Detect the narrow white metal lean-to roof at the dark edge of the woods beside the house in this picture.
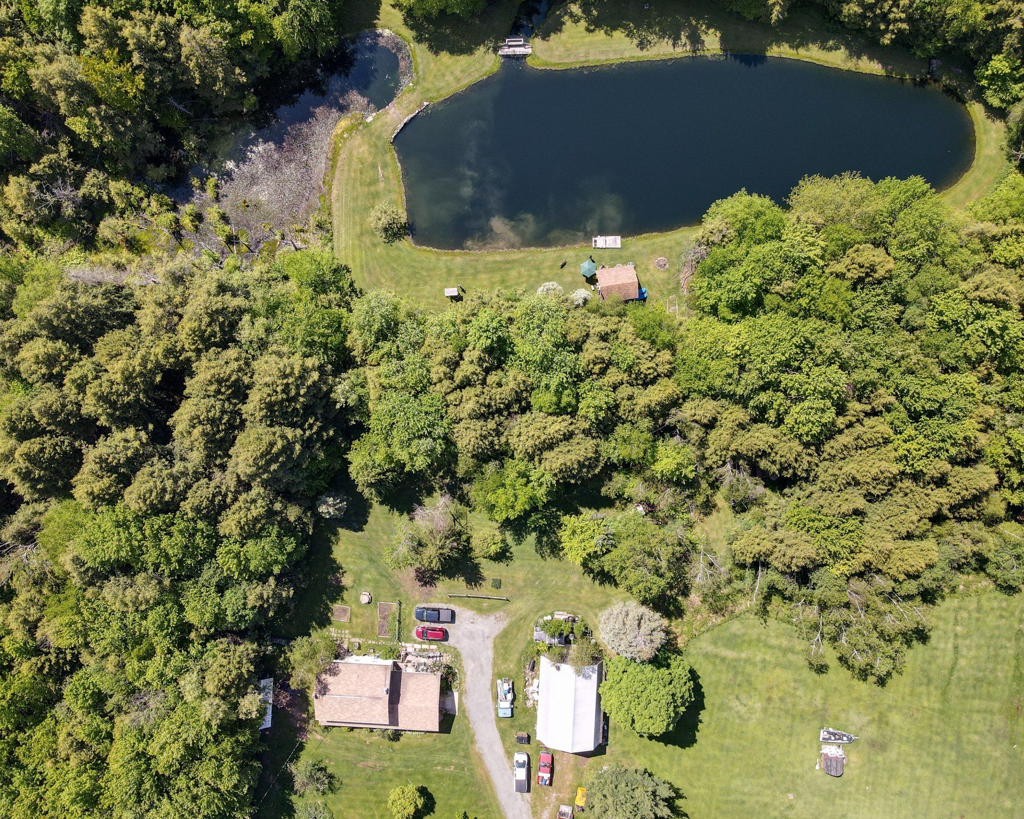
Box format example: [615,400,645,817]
[258,675,278,727]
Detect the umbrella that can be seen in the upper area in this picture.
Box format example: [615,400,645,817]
[581,260,596,276]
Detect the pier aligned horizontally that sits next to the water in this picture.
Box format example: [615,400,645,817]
[592,236,621,248]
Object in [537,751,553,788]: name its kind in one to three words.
vehicle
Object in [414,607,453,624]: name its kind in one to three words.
vehicle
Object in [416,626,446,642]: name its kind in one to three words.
car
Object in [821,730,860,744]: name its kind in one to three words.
boat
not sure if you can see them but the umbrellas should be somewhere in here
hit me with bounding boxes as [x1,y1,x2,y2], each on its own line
[581,260,596,276]
[413,660,428,674]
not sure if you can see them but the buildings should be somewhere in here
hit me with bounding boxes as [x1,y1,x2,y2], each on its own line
[258,675,278,727]
[307,652,441,732]
[536,650,605,754]
[596,265,639,303]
